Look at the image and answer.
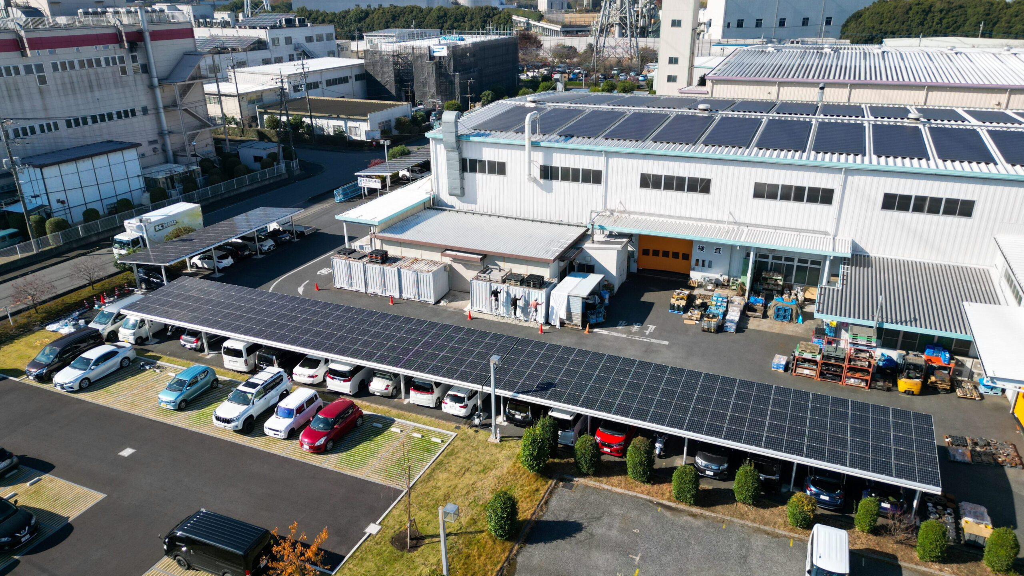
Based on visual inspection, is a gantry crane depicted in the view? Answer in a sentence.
No, no gantry crane can be seen from above.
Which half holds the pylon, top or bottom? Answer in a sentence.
Seen from above, the pylon lies in the top half of the view.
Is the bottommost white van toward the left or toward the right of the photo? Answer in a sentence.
The bottommost white van sits on the right side.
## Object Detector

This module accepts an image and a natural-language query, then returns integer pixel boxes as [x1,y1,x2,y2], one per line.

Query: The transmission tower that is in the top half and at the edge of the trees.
[591,0,637,68]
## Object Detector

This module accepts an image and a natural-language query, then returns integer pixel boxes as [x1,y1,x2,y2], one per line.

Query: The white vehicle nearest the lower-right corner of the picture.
[799,531,848,576]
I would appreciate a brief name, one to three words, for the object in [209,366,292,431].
car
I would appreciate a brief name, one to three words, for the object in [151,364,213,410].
car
